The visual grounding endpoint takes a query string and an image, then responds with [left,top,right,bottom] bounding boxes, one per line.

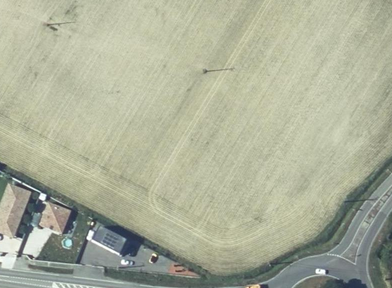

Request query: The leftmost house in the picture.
[0,182,30,238]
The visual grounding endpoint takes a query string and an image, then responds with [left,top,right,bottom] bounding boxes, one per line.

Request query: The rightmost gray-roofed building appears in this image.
[90,226,126,256]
